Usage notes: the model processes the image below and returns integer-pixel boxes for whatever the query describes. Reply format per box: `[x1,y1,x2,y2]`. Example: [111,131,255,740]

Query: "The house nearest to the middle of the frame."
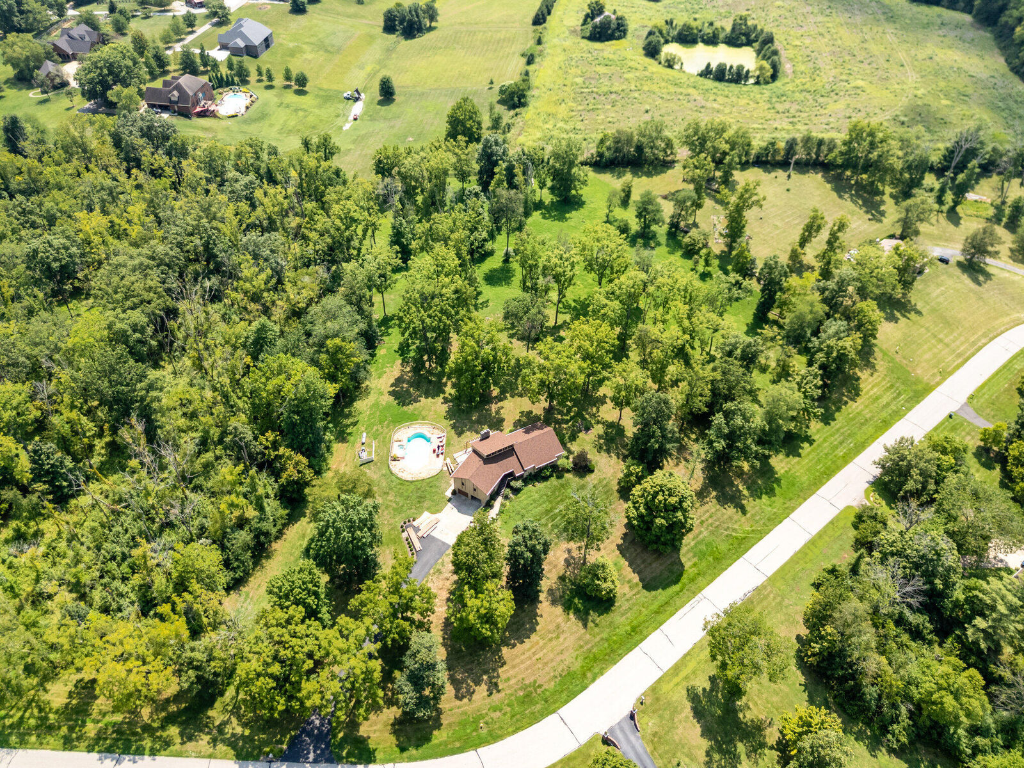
[450,423,566,508]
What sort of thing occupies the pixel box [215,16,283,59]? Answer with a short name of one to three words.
house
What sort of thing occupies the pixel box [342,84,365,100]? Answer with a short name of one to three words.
vehicle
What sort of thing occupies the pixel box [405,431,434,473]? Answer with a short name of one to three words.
swimming pool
